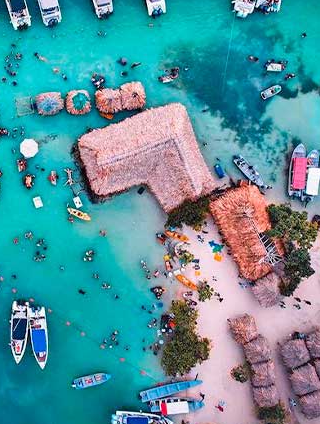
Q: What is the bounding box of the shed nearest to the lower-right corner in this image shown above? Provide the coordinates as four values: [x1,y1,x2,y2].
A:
[291,388,320,417]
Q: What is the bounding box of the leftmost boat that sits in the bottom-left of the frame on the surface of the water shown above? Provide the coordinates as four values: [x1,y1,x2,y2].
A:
[11,302,29,364]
